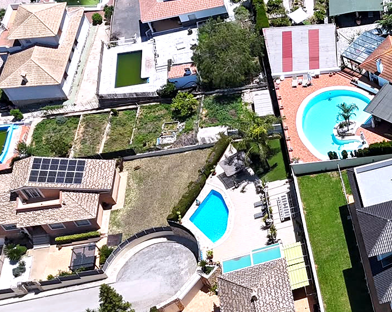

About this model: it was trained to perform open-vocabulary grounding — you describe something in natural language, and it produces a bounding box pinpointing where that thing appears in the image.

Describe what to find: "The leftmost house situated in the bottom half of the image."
[0,155,122,243]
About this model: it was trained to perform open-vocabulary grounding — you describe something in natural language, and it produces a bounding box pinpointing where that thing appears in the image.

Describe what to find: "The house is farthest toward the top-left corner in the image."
[0,1,89,102]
